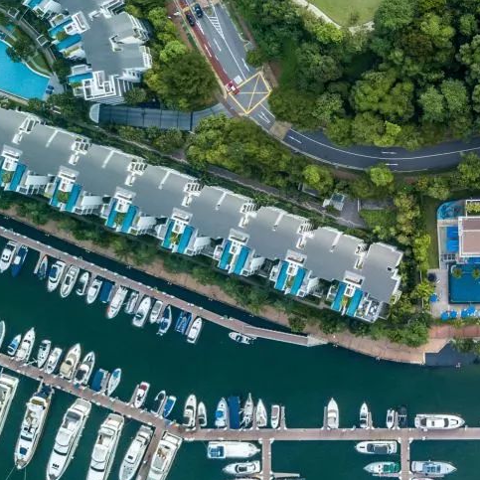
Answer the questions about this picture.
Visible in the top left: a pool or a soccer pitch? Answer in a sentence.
Visible in the top left is a pool.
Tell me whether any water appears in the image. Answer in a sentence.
Yes, water can be seen from above here.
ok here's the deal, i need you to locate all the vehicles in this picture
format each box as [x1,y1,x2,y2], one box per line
[186,13,195,26]
[224,79,238,94]
[194,3,202,17]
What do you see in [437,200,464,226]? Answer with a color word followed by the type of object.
blue swimming pool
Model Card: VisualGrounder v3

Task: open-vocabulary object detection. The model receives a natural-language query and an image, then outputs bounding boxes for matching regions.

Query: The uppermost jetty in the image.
[0,226,309,346]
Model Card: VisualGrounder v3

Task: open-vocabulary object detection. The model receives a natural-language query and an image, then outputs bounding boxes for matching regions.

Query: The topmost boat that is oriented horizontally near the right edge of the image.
[413,413,463,429]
